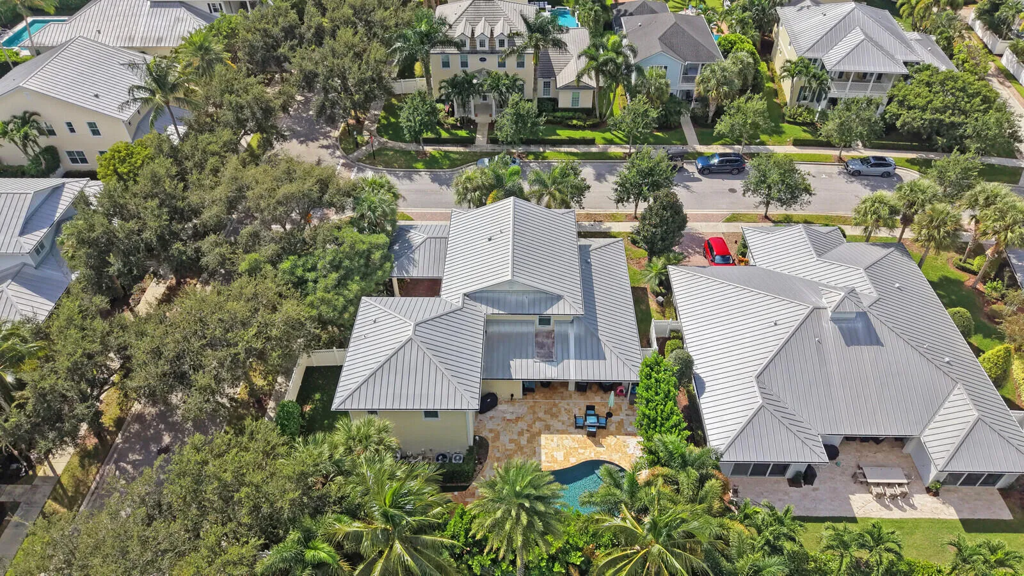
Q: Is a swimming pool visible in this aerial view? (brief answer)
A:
Yes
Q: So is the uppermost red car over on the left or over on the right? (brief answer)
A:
right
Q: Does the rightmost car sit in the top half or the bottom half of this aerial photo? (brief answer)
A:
top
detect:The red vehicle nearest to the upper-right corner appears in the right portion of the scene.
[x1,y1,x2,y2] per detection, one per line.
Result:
[700,232,736,266]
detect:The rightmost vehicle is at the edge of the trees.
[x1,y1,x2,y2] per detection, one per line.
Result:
[841,154,900,180]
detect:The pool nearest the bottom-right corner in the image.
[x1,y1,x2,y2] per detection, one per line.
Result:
[540,453,638,510]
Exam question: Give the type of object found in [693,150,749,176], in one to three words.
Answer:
car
